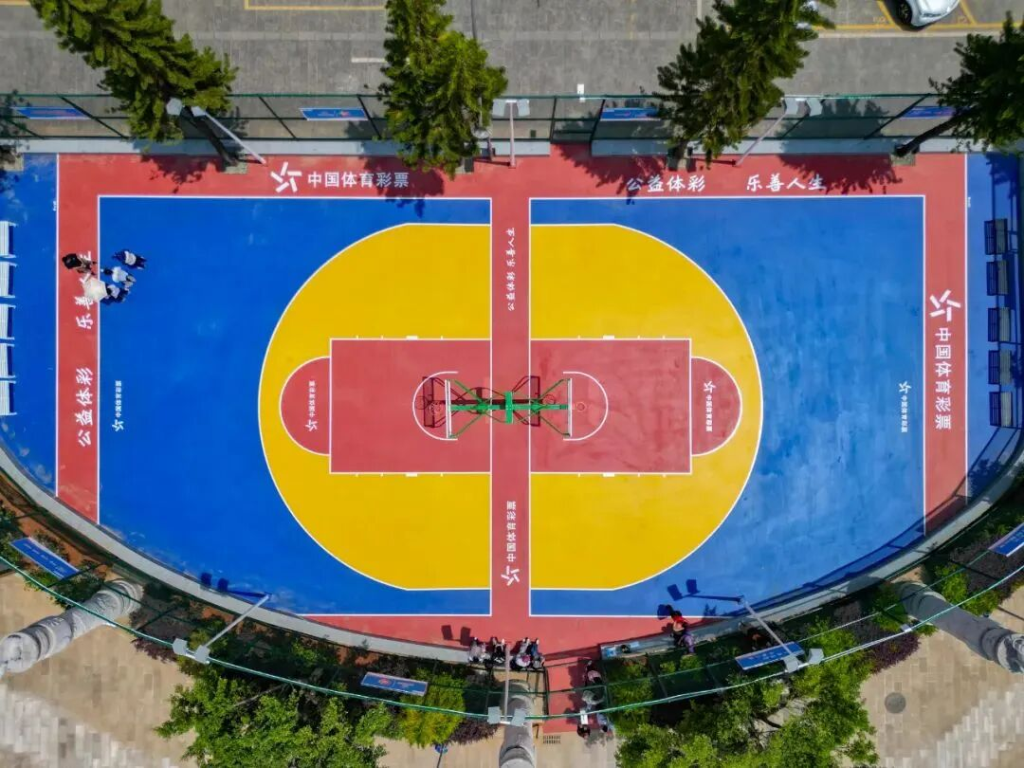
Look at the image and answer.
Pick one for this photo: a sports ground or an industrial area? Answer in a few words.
sports ground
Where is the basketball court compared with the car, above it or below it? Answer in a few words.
below it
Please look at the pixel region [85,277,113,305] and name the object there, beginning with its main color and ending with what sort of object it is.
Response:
white umbrella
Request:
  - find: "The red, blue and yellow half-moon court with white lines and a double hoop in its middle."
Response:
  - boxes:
[0,142,1023,650]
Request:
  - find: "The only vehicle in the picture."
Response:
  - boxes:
[897,0,961,27]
